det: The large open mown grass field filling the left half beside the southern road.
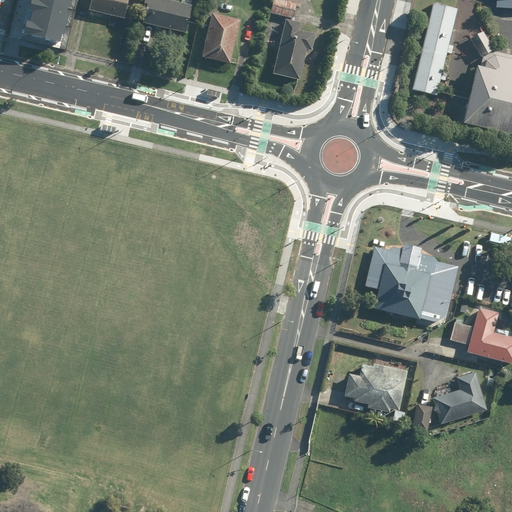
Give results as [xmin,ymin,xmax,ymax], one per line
[0,118,291,512]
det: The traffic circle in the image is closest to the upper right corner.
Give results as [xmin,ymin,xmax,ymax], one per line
[320,136,360,176]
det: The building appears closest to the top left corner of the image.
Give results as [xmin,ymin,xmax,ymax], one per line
[22,0,80,48]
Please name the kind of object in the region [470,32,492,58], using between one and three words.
shed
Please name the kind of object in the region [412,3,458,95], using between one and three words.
building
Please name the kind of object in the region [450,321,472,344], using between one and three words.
building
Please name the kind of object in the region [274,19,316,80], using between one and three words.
house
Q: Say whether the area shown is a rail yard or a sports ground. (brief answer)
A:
sports ground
